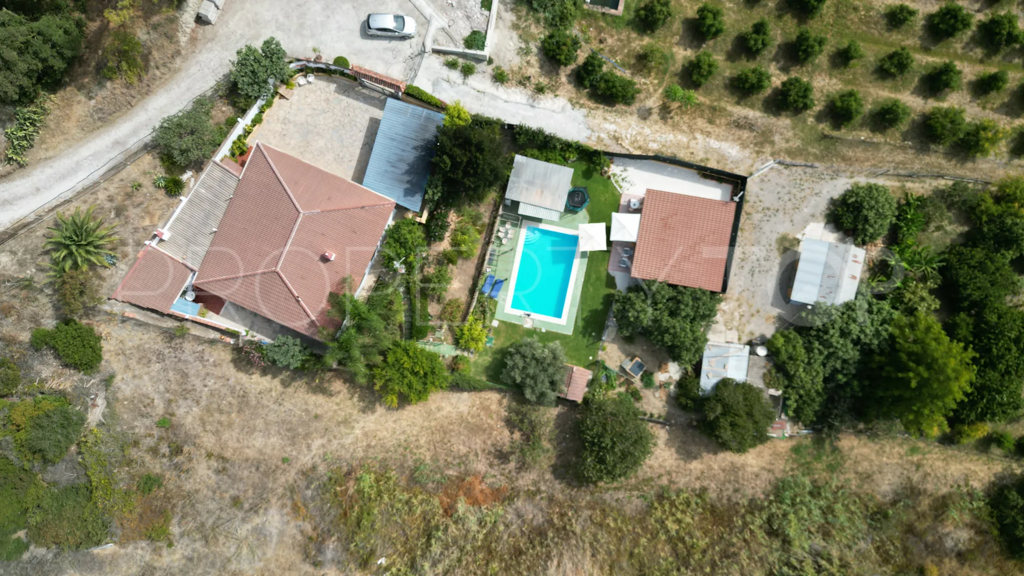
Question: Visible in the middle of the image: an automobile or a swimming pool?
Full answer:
It is a swimming pool that can be seen in the middle of the image.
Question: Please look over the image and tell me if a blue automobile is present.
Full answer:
No, this view has no blue automobile in it.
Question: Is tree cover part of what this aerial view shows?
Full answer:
Yes, some tree cover is visible.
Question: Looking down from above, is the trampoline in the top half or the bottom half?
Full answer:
Seen from above, the trampoline lies in the top half of the view.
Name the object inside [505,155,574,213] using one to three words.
shed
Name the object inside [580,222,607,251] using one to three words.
umbrella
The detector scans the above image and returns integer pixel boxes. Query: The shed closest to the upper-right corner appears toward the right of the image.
[780,238,865,305]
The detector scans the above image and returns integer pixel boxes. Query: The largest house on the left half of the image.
[191,139,396,345]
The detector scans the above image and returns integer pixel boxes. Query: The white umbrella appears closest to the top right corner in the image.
[610,213,640,241]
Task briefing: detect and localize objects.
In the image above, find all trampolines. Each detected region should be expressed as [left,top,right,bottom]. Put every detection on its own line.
[568,187,589,212]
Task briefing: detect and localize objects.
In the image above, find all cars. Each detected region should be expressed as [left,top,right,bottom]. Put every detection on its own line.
[366,12,416,39]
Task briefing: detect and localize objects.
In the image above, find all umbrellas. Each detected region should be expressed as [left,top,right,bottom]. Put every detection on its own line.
[610,213,640,241]
[580,222,607,251]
